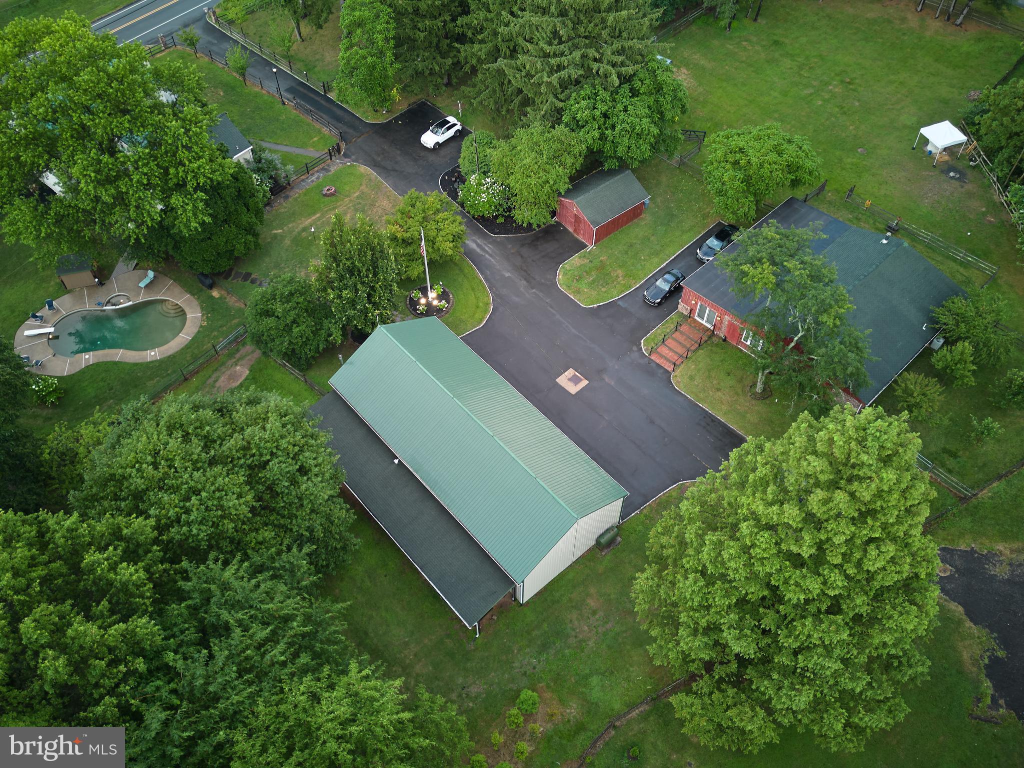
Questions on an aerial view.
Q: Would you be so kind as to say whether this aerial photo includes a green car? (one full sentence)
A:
No, there appears to be no green car in this shot.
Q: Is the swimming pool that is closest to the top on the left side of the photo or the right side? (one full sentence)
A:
The swimming pool that is closest to the top sits on the left side.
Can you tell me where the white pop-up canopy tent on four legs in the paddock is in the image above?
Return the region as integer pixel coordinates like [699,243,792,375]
[911,117,968,168]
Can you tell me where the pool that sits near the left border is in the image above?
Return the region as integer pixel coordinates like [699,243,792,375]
[15,270,201,376]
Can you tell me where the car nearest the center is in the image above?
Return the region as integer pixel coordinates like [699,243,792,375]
[642,261,690,303]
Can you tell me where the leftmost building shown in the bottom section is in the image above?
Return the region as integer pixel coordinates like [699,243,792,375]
[298,316,631,648]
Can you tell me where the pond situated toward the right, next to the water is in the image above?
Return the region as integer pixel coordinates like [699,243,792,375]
[925,549,1024,723]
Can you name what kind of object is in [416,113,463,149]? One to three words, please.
car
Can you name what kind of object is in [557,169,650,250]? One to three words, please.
shed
